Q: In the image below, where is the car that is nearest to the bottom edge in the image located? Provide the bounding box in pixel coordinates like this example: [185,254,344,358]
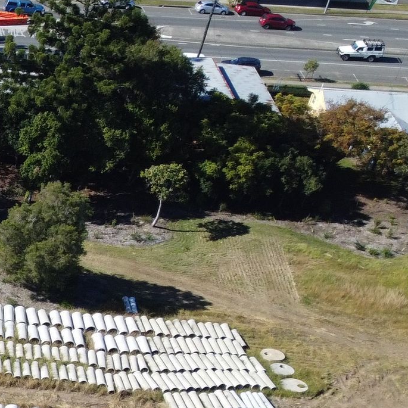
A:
[224,53,264,70]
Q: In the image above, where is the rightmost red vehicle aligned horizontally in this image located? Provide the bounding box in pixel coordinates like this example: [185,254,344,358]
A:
[260,11,298,30]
